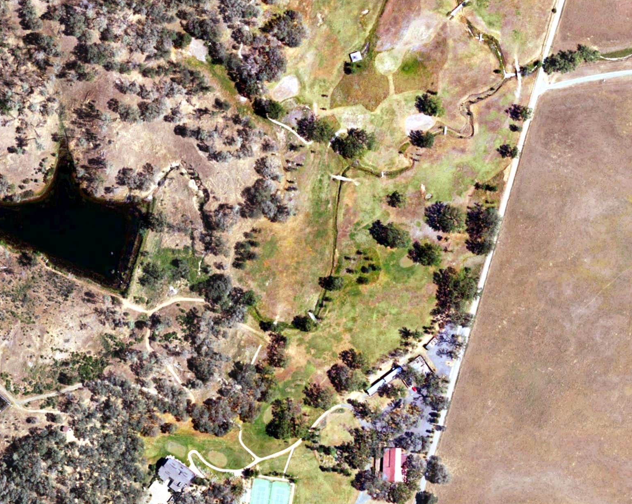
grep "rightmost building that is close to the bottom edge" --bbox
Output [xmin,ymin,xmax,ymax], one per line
[383,448,408,483]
